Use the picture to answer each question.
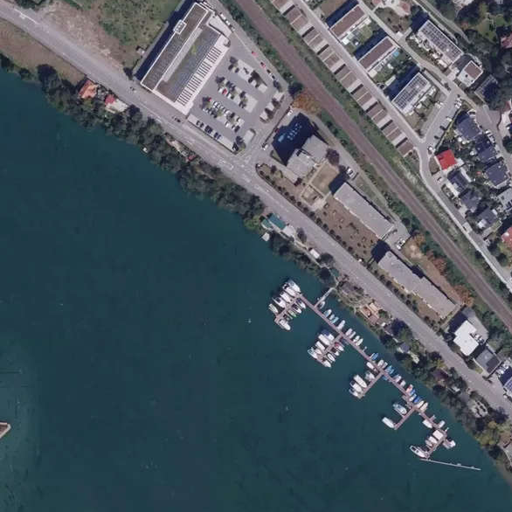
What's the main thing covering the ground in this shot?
water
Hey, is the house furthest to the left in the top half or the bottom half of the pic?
top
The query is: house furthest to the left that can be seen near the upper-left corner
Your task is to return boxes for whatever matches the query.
[79,78,100,100]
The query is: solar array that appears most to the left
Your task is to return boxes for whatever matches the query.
[167,31,220,98]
